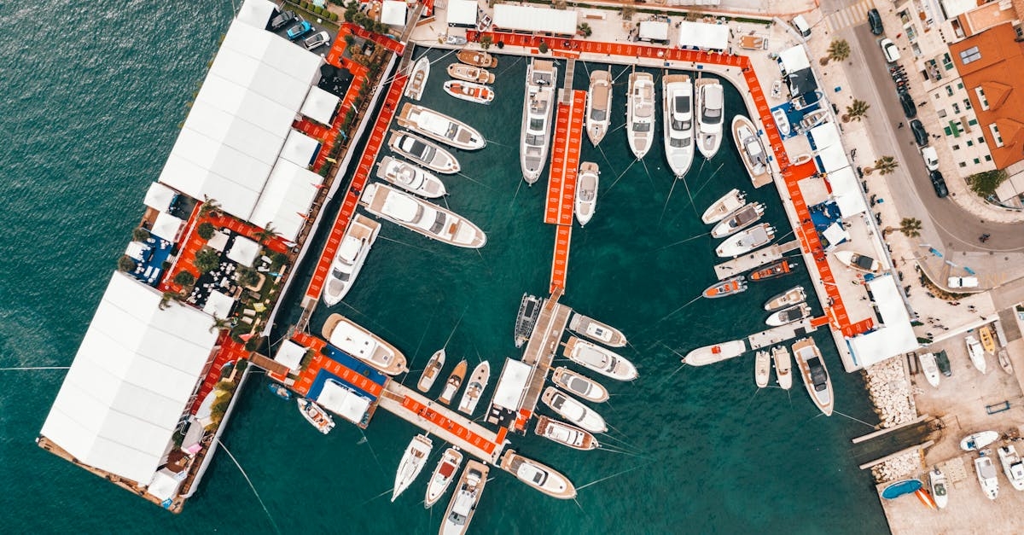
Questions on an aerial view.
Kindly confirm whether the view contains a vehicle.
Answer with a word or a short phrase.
Yes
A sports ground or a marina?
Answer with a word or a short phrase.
marina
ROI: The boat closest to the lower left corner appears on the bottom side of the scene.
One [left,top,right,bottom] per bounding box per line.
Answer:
[268,384,293,400]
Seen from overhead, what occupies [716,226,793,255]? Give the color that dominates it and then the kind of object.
white boat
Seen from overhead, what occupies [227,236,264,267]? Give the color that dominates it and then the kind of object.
white tent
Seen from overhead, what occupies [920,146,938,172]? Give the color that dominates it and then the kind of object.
white vehicle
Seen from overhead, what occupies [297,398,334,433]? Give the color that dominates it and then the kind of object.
white boat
